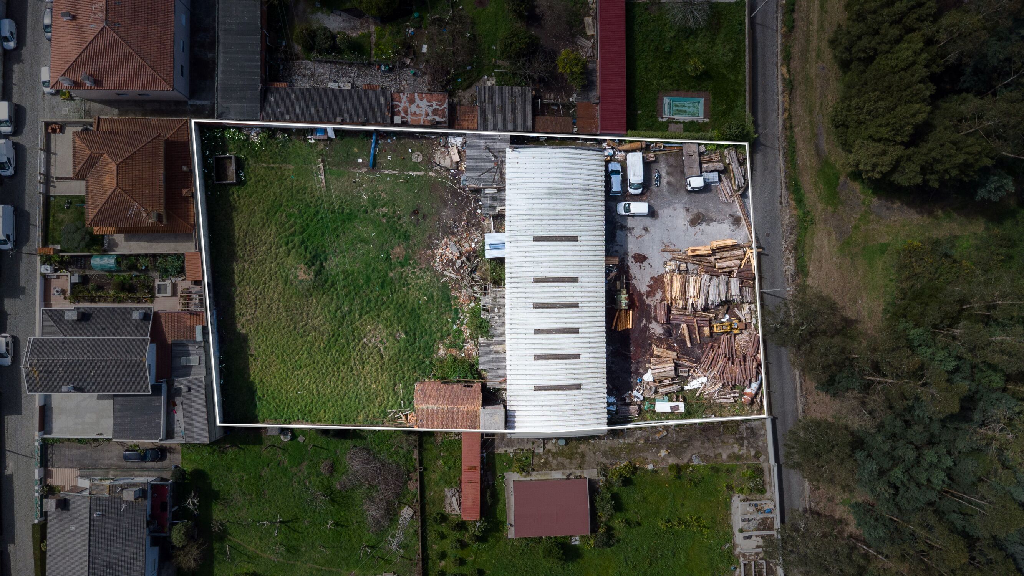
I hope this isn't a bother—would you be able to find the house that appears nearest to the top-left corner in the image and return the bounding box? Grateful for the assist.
[49,0,191,99]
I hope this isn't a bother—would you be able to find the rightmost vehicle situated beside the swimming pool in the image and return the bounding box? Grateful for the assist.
[682,139,706,193]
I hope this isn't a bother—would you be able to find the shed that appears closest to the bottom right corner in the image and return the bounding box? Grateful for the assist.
[513,475,590,538]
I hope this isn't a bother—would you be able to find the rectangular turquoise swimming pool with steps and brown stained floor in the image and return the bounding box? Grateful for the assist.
[662,96,704,119]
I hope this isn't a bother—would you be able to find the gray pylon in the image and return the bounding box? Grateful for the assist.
[375,501,417,557]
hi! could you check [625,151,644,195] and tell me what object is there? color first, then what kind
white vehicle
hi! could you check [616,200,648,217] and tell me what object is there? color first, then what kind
white vehicle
